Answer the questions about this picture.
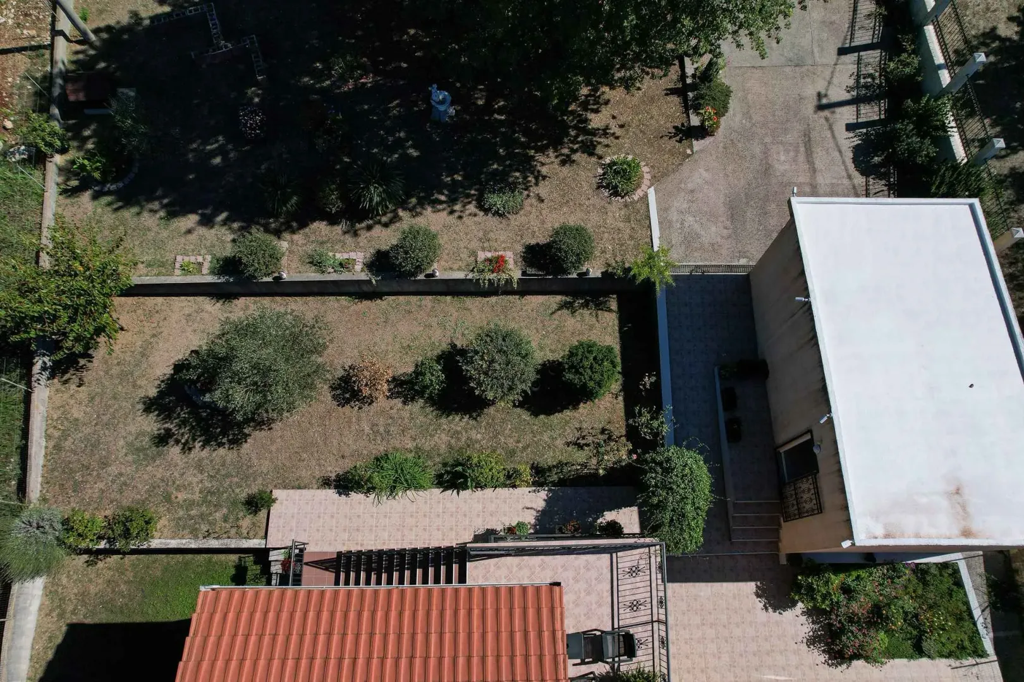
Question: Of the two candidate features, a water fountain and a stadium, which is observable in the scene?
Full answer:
There is a water fountain in the scene.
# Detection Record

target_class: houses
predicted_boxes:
[166,576,572,682]
[750,197,1024,554]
